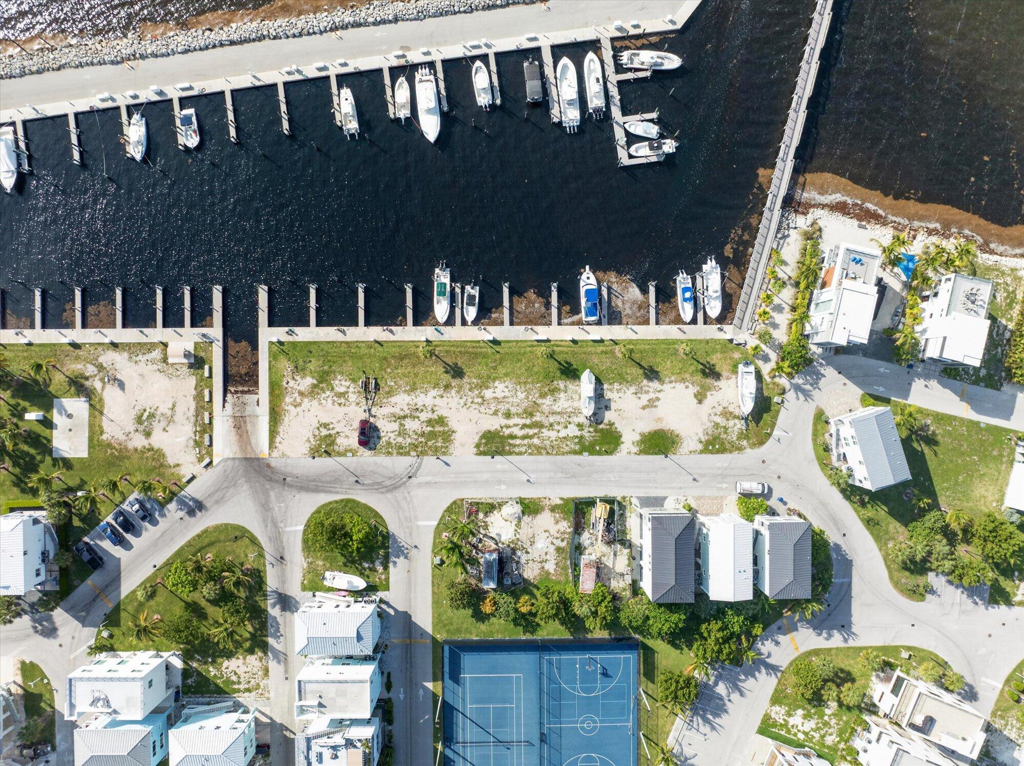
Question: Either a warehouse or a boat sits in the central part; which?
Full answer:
Looking in the central part, you will find a boat.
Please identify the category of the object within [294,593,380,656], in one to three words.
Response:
house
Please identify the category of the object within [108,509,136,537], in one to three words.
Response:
car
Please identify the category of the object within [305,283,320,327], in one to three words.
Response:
pier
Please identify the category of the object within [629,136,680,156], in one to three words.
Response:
boat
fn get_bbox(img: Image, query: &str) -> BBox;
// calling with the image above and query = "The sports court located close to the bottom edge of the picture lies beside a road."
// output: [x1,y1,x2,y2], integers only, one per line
[442,640,639,766]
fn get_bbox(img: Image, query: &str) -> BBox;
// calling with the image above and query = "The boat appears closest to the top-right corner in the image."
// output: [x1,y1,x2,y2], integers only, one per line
[890,301,905,326]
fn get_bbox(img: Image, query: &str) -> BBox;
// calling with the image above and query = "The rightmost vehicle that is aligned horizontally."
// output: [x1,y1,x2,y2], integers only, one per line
[736,482,769,497]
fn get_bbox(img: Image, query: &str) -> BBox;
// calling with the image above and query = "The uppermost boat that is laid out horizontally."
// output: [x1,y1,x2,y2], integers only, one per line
[615,46,682,71]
